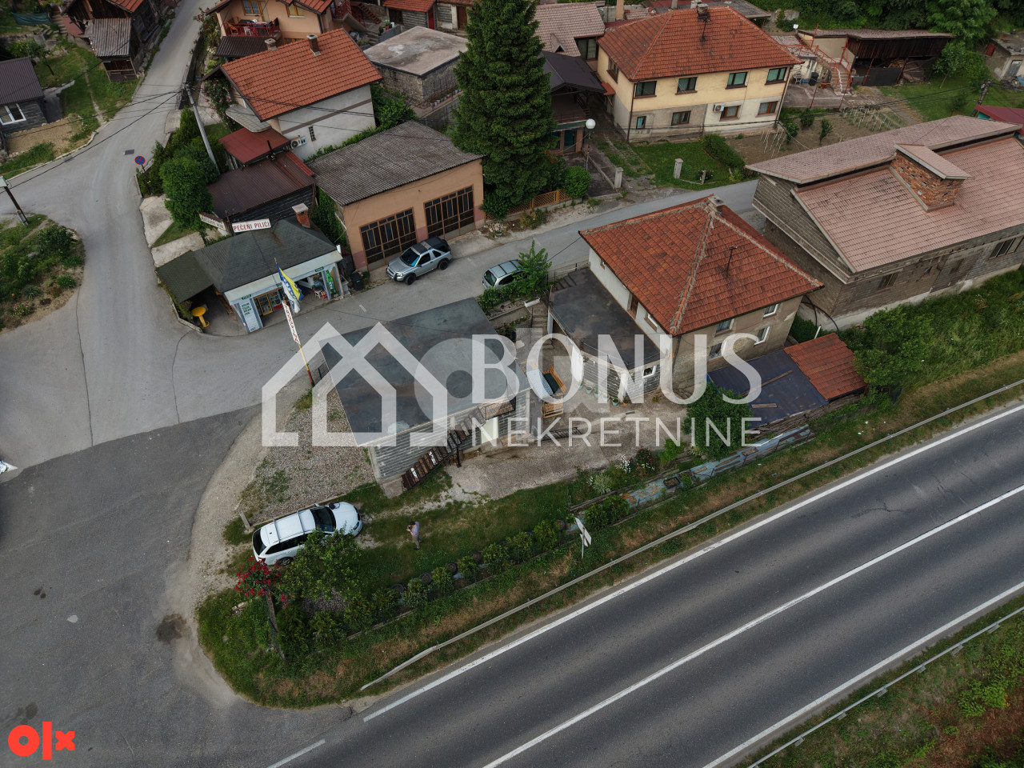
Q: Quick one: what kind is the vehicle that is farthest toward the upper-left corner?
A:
automobile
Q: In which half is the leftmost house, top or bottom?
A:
top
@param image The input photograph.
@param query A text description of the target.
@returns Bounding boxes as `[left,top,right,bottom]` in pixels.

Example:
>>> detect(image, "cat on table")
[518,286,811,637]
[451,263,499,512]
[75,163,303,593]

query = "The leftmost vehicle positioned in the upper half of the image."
[378,232,455,287]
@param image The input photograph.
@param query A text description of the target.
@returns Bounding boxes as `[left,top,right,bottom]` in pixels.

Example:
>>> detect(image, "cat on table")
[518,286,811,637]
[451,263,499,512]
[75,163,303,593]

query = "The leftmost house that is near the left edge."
[0,57,60,133]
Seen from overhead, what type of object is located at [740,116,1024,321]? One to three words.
building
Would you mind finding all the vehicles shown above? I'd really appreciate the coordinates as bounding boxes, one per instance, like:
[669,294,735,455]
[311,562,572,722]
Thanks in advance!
[378,232,455,287]
[484,254,536,295]
[248,507,365,574]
